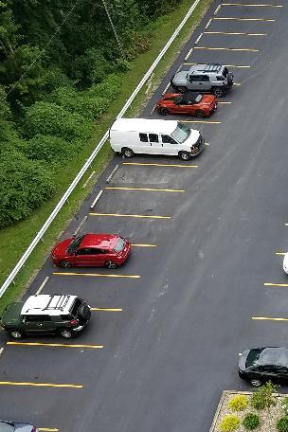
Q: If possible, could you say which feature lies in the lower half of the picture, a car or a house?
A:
car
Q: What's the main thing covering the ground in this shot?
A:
paved ground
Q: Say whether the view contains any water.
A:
No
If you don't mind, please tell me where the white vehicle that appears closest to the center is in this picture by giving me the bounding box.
[105,118,205,160]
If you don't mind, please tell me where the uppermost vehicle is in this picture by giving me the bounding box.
[169,63,236,96]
